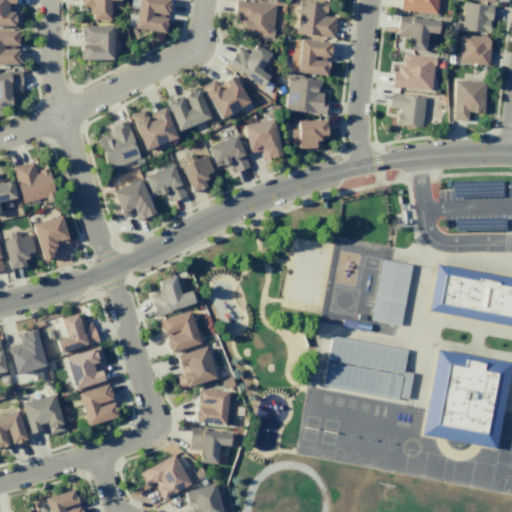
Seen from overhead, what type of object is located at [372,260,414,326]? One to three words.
building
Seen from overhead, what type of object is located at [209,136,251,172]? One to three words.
house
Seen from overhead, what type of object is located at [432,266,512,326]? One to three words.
building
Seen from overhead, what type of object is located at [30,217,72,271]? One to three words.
house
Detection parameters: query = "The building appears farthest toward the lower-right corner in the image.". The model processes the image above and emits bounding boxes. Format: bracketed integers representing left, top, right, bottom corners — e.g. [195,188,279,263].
[424,350,512,448]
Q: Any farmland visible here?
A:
No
